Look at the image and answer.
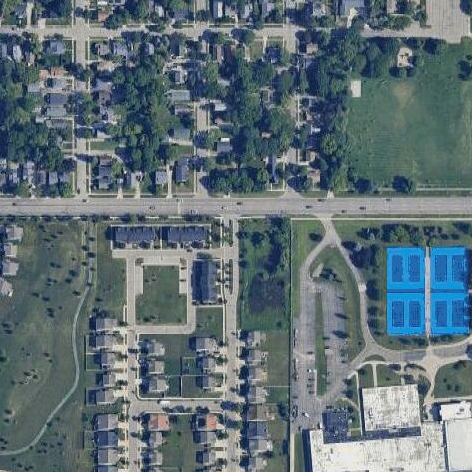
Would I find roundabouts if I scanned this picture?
No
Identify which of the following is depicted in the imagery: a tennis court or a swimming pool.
tennis court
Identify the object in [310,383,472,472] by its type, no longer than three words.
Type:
building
